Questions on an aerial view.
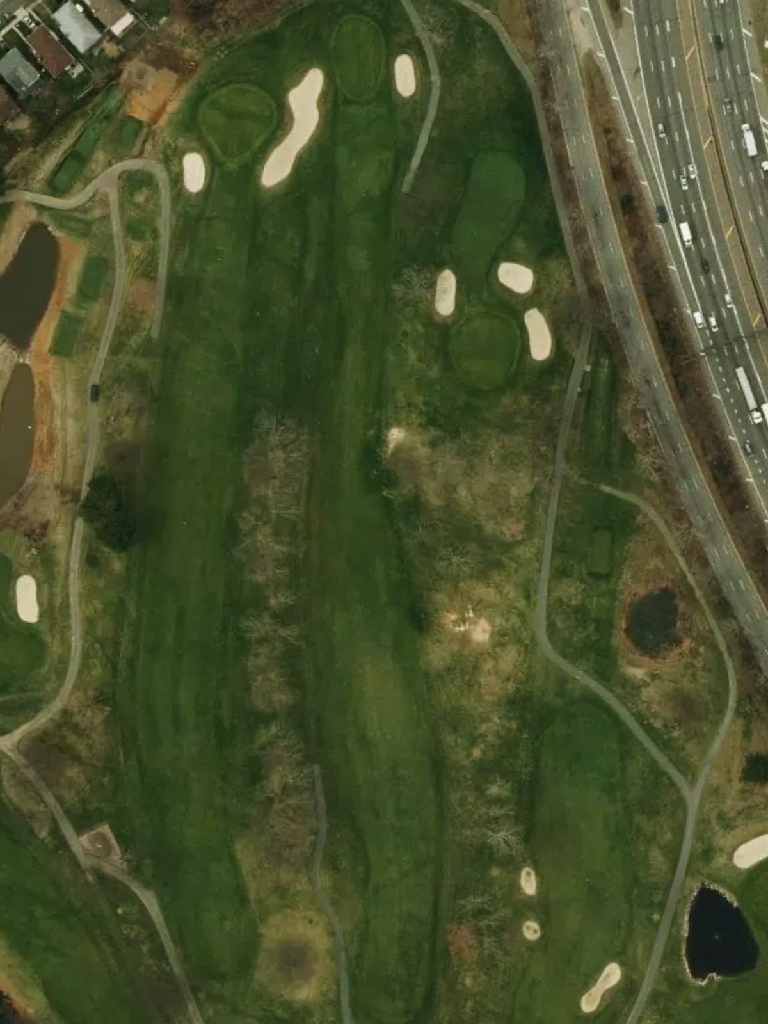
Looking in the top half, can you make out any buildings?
Yes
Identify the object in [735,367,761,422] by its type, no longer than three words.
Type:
truck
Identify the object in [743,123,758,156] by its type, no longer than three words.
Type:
vehicle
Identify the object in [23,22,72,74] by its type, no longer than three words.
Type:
house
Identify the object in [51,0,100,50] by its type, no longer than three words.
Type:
house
